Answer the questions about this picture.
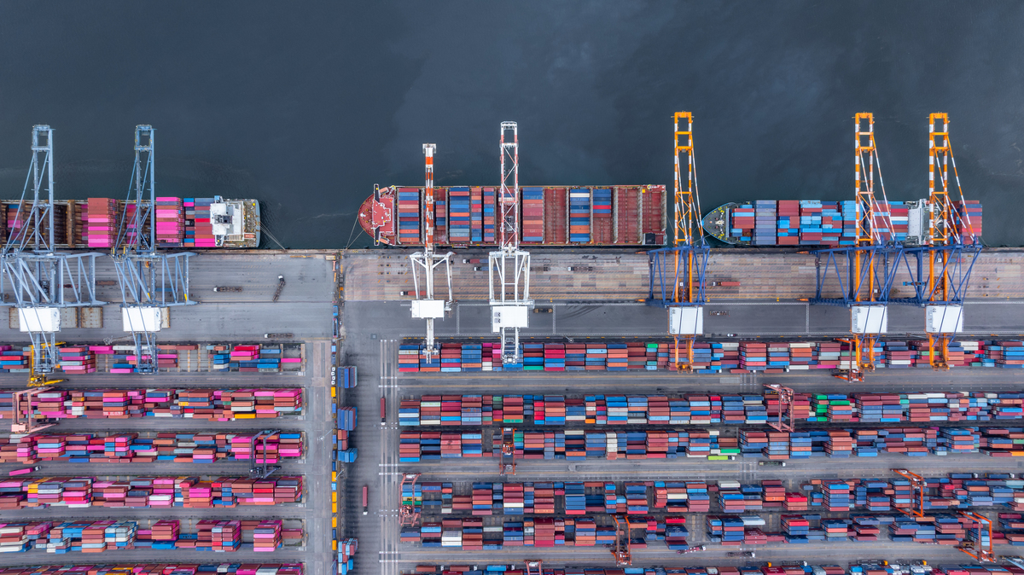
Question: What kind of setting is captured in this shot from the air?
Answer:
port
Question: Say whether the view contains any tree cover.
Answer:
No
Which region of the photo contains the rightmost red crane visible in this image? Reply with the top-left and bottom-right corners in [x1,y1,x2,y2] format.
[953,510,995,563]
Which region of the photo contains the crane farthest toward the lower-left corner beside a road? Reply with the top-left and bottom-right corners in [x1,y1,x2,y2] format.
[8,386,57,433]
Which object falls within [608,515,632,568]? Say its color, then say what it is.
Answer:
red crane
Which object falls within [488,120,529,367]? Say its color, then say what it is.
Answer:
white container crane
